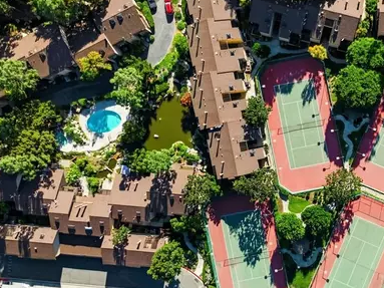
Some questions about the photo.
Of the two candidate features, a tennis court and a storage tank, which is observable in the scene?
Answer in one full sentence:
The image shows a tennis court.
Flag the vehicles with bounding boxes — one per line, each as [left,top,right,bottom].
[146,0,155,11]
[164,0,173,14]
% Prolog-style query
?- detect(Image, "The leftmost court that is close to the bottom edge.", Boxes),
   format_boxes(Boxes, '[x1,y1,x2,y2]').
[208,190,286,288]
